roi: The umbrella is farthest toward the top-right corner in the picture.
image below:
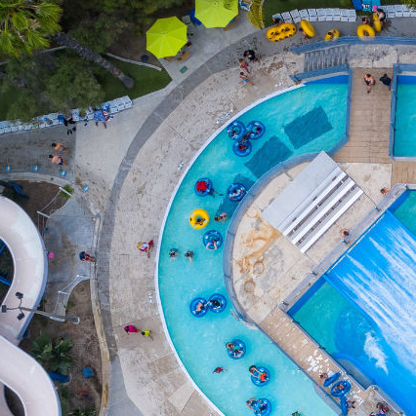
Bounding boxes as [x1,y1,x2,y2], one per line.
[198,0,242,30]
